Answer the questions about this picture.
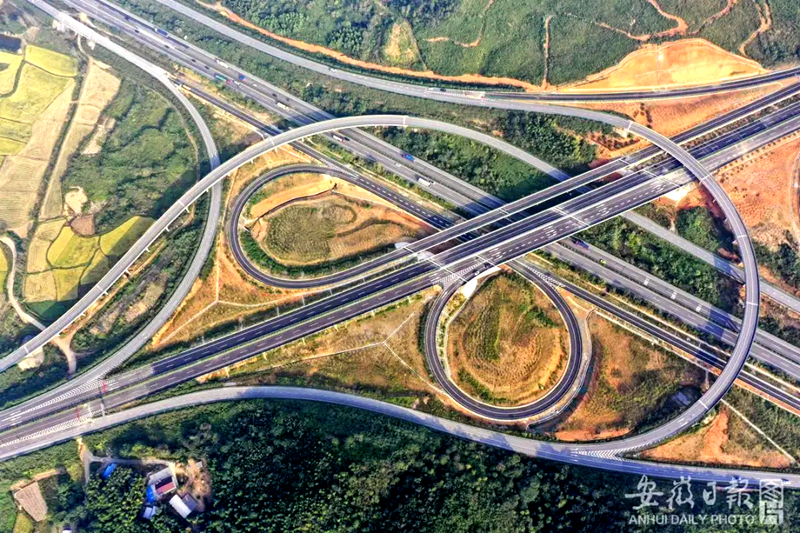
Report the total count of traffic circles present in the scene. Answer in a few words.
zero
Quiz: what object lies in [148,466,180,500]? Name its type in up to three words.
house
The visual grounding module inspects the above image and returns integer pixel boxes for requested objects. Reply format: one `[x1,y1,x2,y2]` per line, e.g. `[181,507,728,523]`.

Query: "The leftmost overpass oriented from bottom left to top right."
[0,115,406,372]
